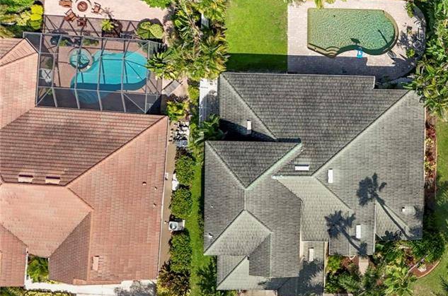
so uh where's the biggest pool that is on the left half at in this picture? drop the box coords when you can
[69,46,152,105]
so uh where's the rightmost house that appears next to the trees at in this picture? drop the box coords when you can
[202,72,425,296]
